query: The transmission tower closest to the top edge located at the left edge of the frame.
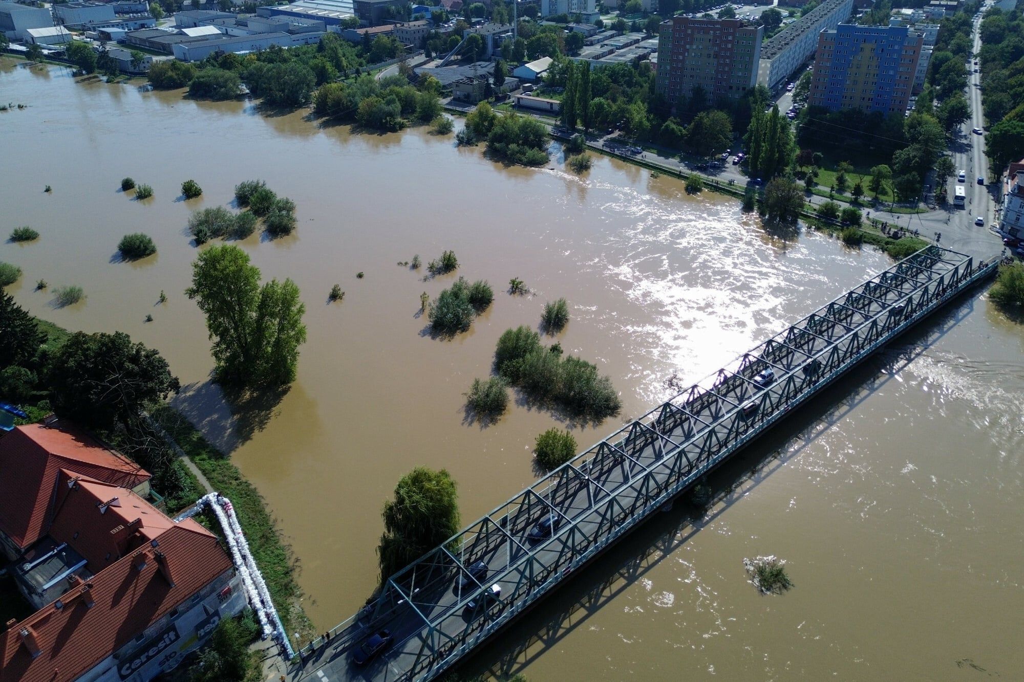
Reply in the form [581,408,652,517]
[37,0,72,57]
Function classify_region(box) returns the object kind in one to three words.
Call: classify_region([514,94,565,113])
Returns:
shed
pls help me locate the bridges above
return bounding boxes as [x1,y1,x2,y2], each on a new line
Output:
[294,245,985,682]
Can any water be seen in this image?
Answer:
Yes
